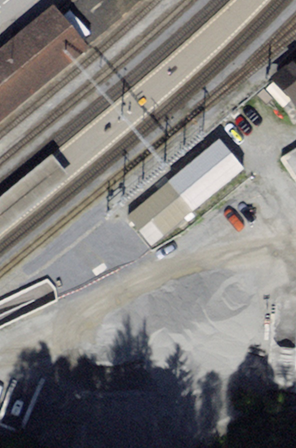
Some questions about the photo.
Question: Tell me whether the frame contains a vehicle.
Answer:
Yes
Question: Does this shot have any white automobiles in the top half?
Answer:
Yes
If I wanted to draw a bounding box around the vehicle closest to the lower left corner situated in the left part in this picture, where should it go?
[11,398,24,418]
